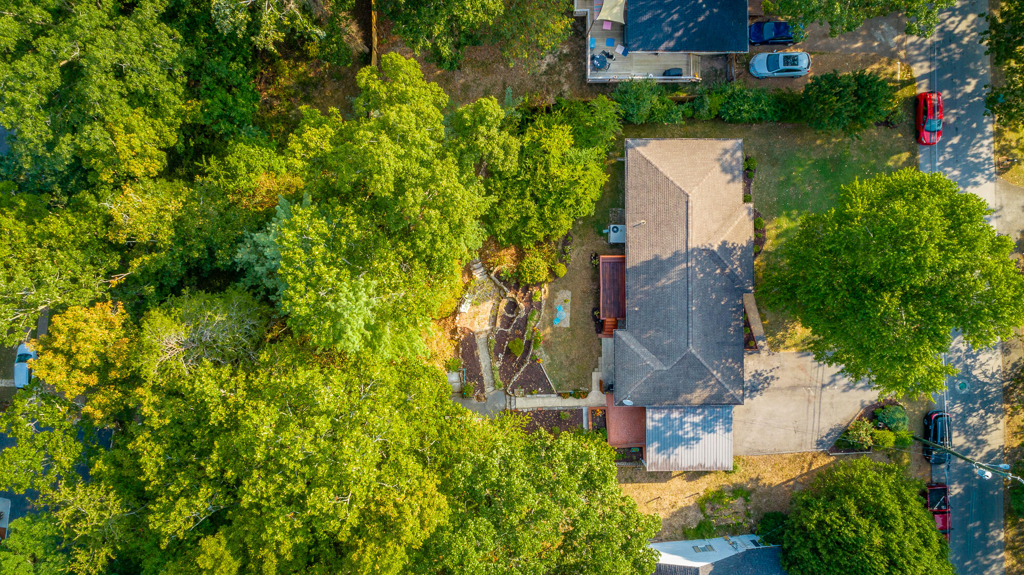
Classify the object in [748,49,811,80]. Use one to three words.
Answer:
car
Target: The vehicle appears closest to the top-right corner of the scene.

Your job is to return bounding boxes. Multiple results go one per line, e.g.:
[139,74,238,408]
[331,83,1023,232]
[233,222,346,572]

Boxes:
[915,90,947,145]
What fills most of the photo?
trees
